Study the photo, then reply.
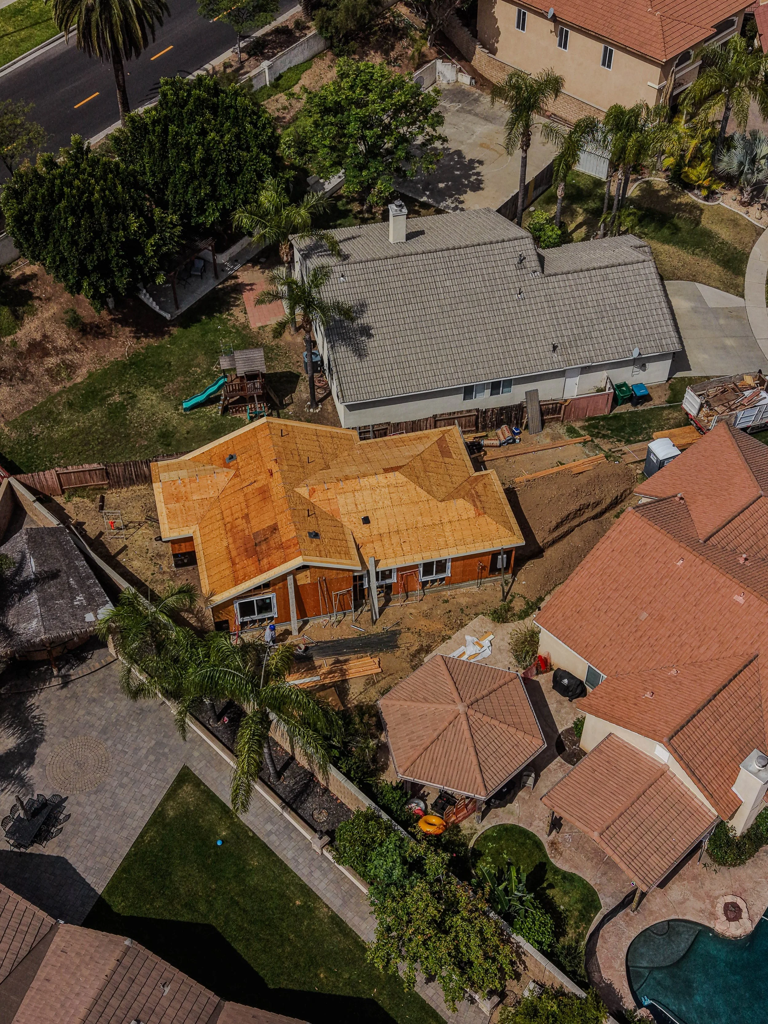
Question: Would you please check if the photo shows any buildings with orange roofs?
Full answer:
Yes, a building with an orange roof can be made out from above.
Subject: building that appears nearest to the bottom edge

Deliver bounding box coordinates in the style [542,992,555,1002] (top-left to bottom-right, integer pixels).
[0,884,282,1024]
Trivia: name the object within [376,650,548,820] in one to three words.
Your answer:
gazebo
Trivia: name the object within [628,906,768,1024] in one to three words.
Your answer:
swimming pool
